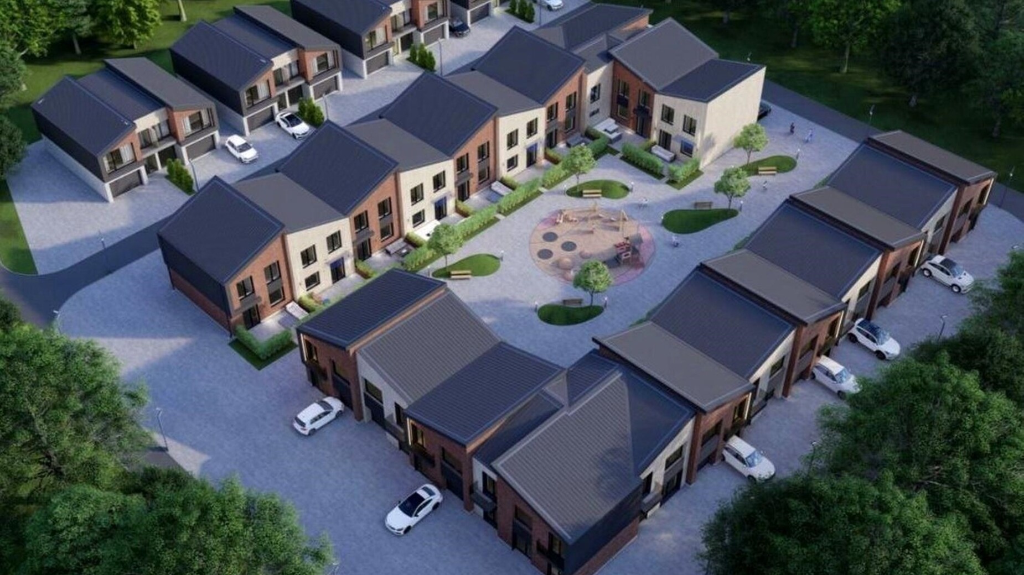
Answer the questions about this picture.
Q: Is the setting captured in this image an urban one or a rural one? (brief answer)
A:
urban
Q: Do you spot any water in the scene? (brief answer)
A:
No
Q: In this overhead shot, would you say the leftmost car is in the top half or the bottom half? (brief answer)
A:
top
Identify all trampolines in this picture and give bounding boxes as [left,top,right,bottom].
[542,231,558,241]
[561,239,577,250]
[538,248,555,258]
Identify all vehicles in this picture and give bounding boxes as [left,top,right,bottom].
[220,130,260,162]
[850,319,906,361]
[287,398,344,438]
[721,437,780,484]
[272,109,313,137]
[922,255,977,294]
[754,101,777,123]
[811,357,866,397]
[446,14,476,38]
[382,486,445,537]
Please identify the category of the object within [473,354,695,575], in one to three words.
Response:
house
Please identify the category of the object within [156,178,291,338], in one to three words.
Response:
house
